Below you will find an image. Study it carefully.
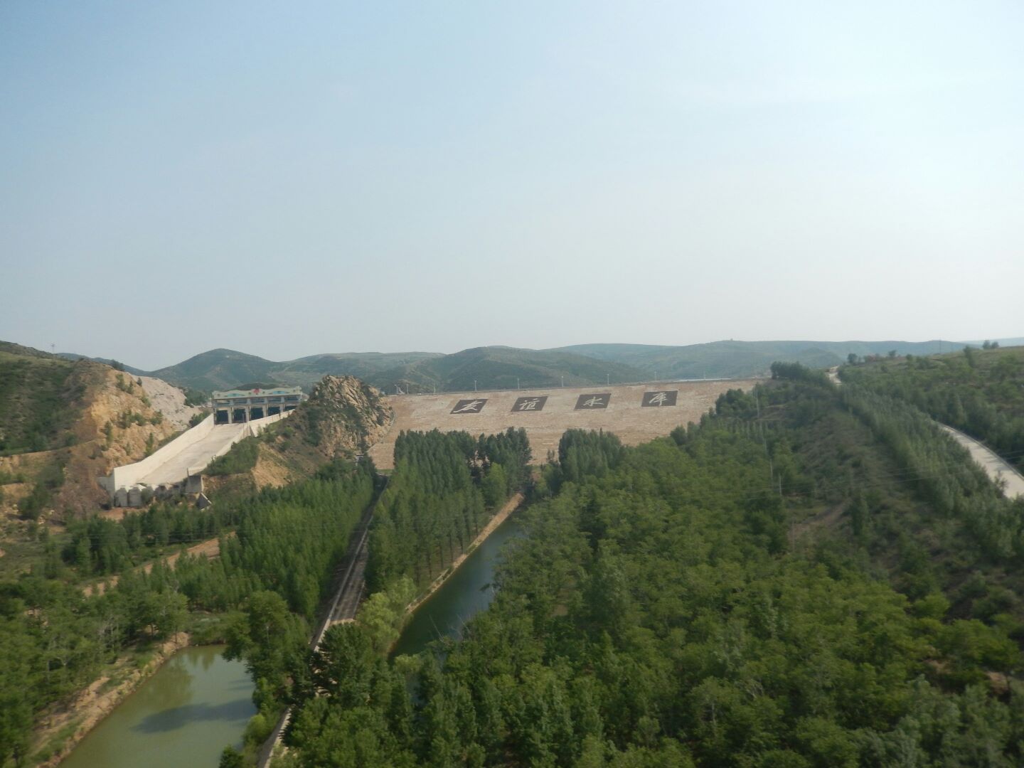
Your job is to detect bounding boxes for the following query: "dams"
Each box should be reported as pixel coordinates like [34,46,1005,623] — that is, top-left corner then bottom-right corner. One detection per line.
[371,376,771,461]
